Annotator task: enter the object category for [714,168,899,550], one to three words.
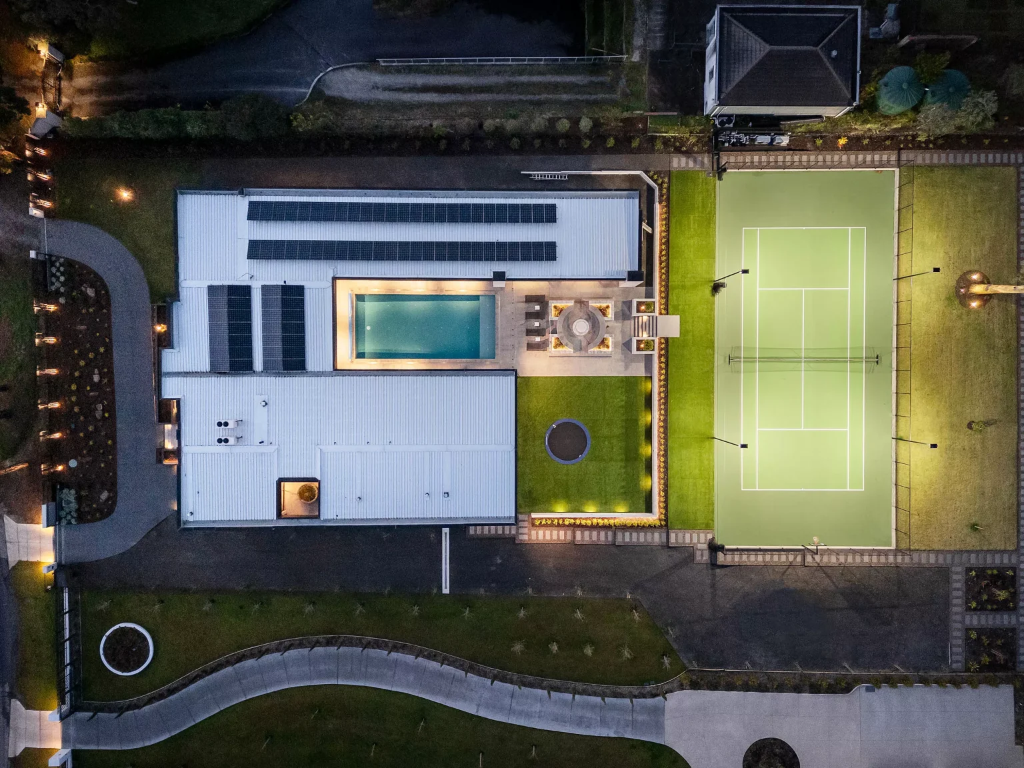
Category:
tennis court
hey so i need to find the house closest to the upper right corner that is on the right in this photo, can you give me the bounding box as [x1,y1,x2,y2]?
[706,0,863,127]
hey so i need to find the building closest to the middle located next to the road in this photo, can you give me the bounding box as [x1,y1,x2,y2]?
[160,186,643,529]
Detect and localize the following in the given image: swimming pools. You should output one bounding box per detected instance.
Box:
[351,290,499,364]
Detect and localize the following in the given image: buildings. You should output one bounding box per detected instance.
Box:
[160,186,643,529]
[706,0,863,127]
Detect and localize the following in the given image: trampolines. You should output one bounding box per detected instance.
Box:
[545,418,591,463]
